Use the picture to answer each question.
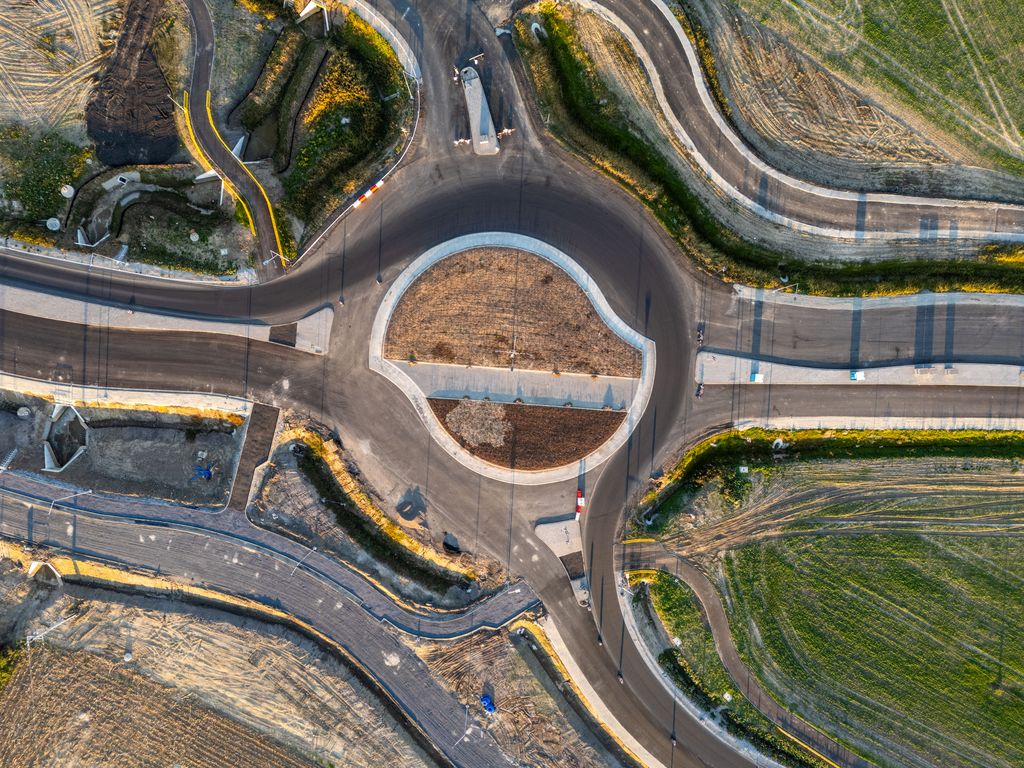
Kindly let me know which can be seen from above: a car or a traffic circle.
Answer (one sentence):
It is a traffic circle that can be seen here.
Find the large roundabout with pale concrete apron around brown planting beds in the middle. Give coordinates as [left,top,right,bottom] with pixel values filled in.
[286,107,734,568]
